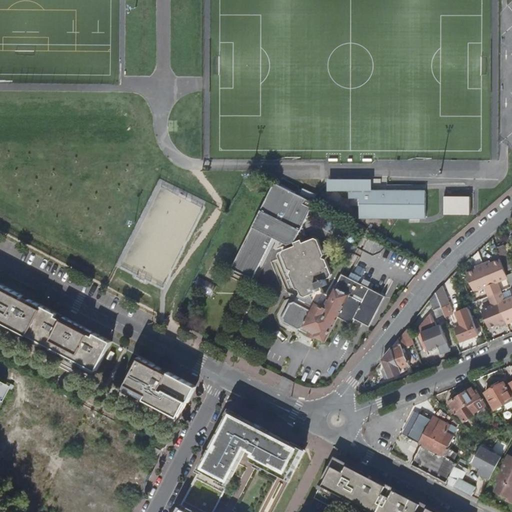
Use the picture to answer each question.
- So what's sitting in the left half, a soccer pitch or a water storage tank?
soccer pitch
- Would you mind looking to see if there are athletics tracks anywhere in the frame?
No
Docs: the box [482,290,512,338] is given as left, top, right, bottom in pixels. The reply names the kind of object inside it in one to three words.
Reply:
house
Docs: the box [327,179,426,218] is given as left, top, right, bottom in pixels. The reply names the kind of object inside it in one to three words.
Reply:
building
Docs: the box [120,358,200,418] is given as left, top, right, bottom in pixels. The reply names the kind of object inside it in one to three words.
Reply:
building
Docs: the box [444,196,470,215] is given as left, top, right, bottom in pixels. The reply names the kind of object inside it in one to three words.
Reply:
shed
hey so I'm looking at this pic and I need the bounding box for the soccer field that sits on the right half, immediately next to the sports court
[210,0,490,159]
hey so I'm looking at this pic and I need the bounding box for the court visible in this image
[116,179,205,288]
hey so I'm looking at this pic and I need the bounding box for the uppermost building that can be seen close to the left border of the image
[0,280,114,372]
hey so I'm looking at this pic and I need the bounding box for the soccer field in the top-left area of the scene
[0,0,120,84]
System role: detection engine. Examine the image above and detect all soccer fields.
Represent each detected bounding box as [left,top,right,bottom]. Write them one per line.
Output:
[210,0,490,159]
[0,0,120,84]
